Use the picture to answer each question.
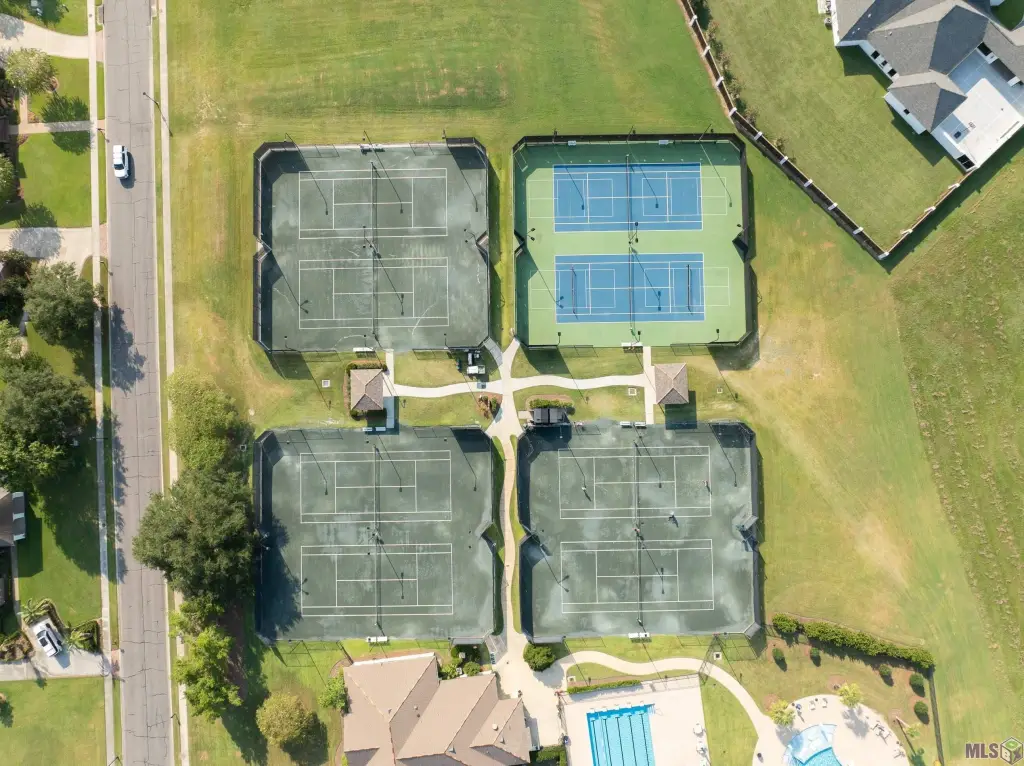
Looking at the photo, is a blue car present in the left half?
No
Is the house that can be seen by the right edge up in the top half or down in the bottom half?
top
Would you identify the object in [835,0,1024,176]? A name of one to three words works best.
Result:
house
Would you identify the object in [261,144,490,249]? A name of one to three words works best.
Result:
tennis court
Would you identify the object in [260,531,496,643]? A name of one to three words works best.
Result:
tennis court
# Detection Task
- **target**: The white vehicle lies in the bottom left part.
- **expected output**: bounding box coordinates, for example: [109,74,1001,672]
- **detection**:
[34,621,61,657]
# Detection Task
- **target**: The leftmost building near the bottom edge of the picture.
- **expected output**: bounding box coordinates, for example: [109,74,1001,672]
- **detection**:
[343,651,530,766]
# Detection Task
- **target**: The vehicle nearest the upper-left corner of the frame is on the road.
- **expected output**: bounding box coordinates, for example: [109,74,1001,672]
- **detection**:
[111,145,130,180]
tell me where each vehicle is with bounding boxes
[111,145,130,180]
[34,621,61,657]
[467,364,487,373]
